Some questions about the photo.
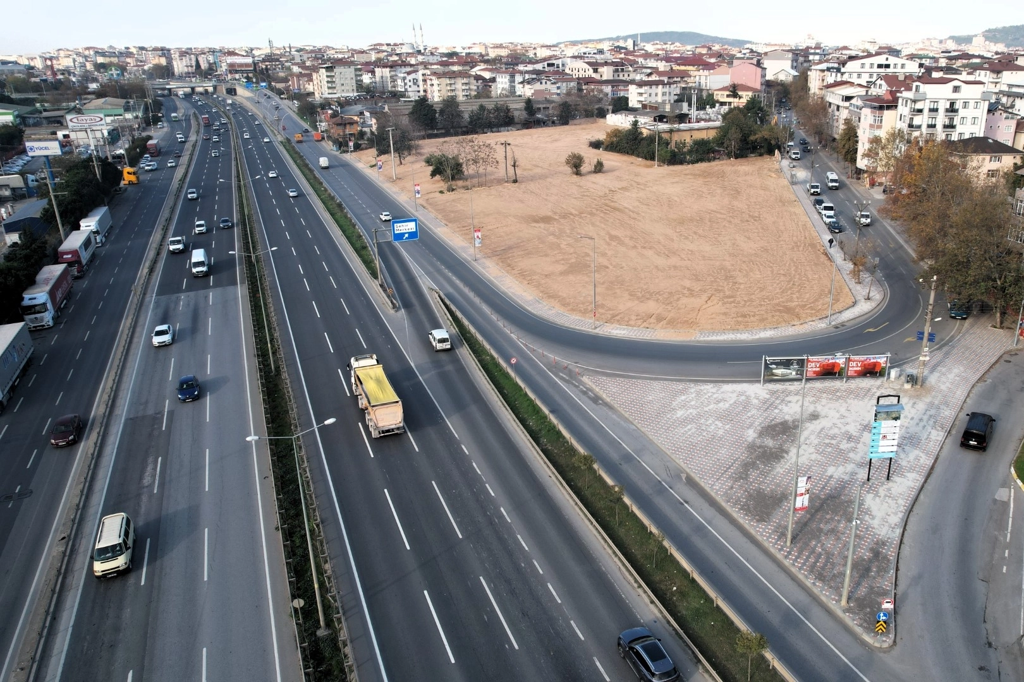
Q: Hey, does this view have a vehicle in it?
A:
Yes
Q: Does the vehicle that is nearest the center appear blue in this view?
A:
No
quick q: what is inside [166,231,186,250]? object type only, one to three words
vehicle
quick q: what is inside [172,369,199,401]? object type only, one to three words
car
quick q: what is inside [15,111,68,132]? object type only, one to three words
house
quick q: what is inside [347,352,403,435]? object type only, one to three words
truck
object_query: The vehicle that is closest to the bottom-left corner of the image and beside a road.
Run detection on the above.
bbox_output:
[89,505,136,576]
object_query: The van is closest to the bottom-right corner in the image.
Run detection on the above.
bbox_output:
[960,405,996,449]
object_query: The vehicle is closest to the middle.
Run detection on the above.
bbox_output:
[425,323,450,349]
